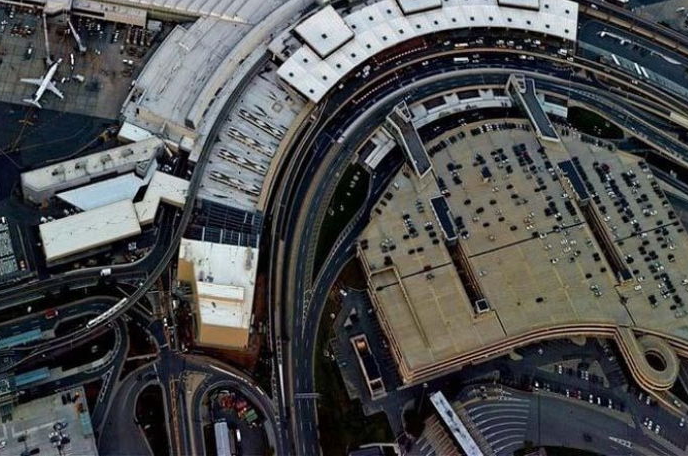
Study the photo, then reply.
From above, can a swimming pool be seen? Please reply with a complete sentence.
No, I find no swimming pool anywhere in the image.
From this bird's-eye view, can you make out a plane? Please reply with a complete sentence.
Yes, this view includes a plane.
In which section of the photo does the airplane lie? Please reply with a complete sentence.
The airplane is located in the top left region of the scene.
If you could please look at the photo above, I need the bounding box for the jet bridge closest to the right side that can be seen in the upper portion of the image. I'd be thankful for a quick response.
[65,10,89,53]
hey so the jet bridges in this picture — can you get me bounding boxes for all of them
[65,10,89,53]
[41,10,55,65]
